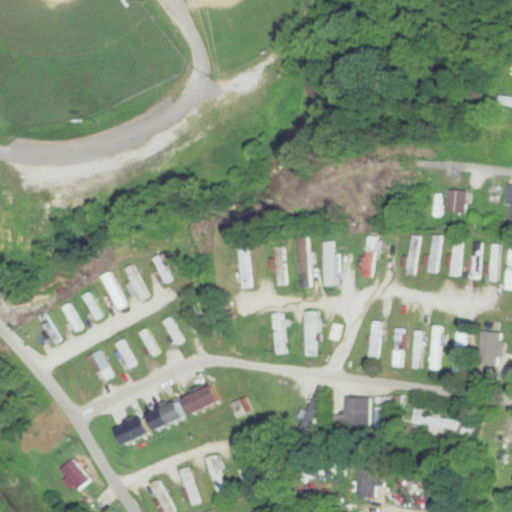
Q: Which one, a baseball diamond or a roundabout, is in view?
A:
baseball diamond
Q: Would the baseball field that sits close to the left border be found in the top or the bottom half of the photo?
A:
top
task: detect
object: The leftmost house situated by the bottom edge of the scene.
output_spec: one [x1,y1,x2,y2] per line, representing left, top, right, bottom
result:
[60,460,92,492]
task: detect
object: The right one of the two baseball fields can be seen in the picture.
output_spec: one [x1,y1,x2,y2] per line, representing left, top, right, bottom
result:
[186,0,294,76]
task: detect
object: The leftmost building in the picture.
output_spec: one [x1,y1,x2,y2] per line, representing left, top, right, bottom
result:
[38,312,62,344]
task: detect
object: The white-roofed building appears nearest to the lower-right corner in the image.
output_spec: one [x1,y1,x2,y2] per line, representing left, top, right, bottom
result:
[412,409,476,438]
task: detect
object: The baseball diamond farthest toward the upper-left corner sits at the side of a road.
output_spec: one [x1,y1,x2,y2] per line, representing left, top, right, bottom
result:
[0,0,184,126]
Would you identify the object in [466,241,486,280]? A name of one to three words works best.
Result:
house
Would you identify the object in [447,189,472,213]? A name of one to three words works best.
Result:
house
